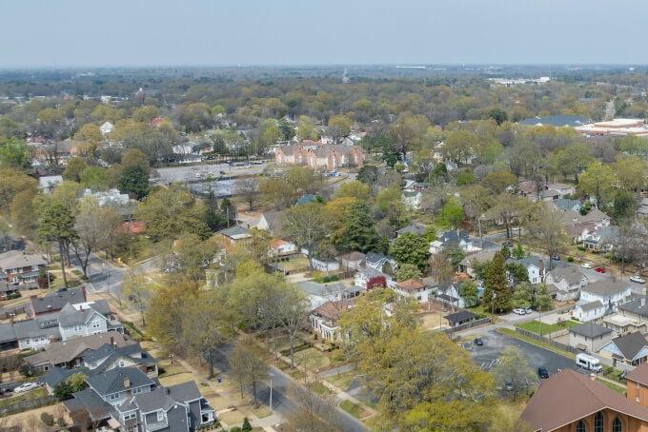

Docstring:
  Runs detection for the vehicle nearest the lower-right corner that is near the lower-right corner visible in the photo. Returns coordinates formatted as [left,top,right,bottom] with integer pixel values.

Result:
[574,354,600,369]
